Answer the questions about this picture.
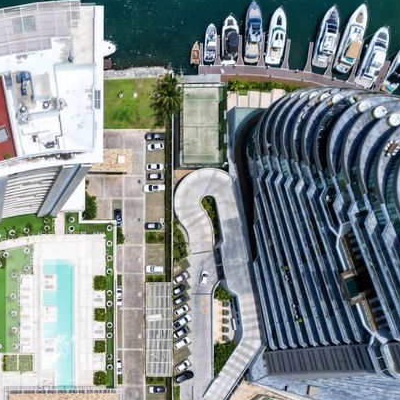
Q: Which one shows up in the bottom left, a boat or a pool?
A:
pool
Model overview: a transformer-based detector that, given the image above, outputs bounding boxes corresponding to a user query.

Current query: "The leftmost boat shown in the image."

[103,38,117,56]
